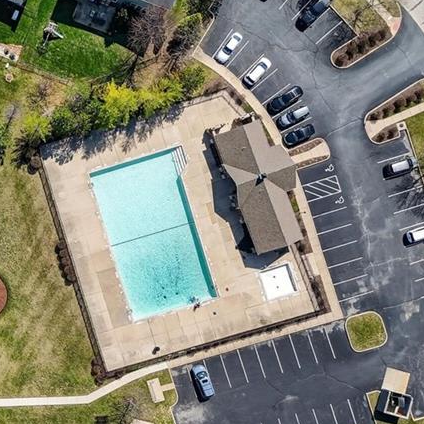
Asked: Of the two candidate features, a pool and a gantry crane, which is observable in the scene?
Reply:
pool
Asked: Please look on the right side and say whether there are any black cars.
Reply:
Yes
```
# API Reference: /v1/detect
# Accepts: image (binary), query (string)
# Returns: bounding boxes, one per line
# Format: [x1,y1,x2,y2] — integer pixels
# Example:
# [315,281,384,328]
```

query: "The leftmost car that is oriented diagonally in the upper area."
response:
[219,31,244,62]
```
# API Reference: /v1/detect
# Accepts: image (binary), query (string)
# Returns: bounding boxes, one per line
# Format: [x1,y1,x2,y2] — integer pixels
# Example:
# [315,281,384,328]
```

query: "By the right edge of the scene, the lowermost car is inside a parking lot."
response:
[401,226,424,244]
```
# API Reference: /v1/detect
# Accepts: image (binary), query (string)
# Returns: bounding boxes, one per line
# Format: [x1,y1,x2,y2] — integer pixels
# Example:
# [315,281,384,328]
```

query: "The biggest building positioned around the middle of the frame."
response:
[208,119,303,254]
